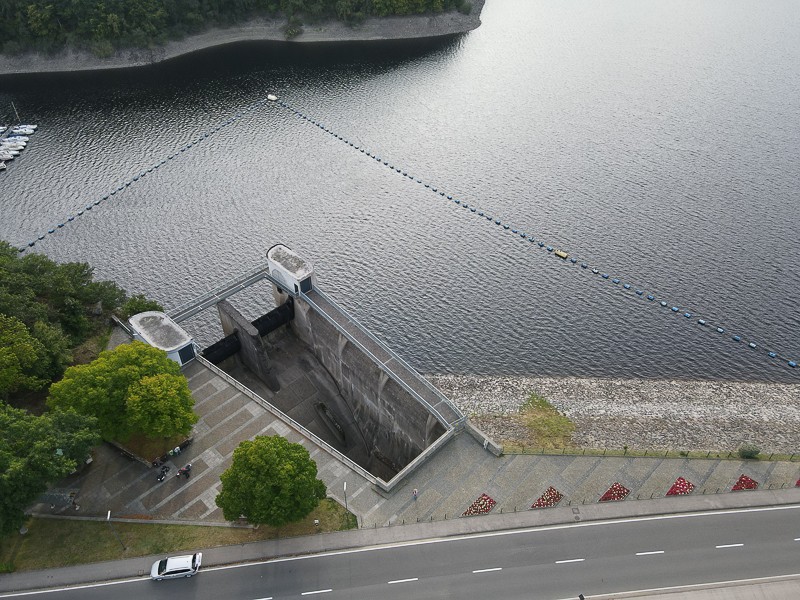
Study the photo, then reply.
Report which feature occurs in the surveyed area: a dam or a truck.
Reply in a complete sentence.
It is a dam that can be seen here.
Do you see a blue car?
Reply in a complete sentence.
No, this view has no blue car in it.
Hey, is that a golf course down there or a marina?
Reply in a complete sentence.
It's a marina.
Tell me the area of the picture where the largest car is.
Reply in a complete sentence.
The largest car appears toward the bottom left of the photo.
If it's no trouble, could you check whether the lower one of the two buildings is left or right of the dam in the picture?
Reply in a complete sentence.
The lower one of the two buildings appears to the left of the dam in this view.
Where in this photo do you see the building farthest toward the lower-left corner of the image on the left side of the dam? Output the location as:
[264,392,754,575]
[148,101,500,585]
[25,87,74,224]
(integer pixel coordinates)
[134,306,196,370]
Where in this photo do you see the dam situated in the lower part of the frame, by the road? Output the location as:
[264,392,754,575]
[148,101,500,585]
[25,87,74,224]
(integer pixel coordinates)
[195,262,467,532]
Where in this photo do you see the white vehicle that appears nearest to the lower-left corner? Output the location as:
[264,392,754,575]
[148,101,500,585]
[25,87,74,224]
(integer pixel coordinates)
[152,552,204,580]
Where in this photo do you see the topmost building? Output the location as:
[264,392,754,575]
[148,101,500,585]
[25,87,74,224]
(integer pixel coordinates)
[262,244,314,293]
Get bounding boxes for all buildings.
[134,306,196,370]
[262,244,314,293]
